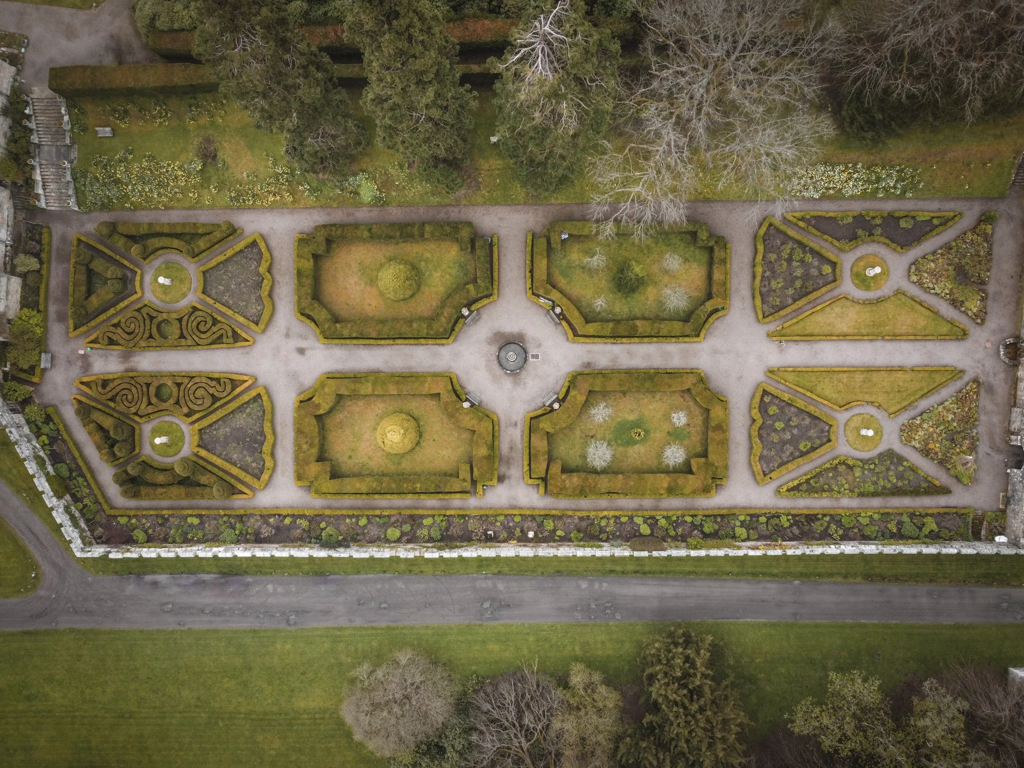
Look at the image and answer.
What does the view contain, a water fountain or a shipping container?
water fountain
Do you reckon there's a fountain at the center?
Yes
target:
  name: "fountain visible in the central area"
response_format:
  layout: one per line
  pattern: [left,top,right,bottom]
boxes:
[496,340,529,373]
